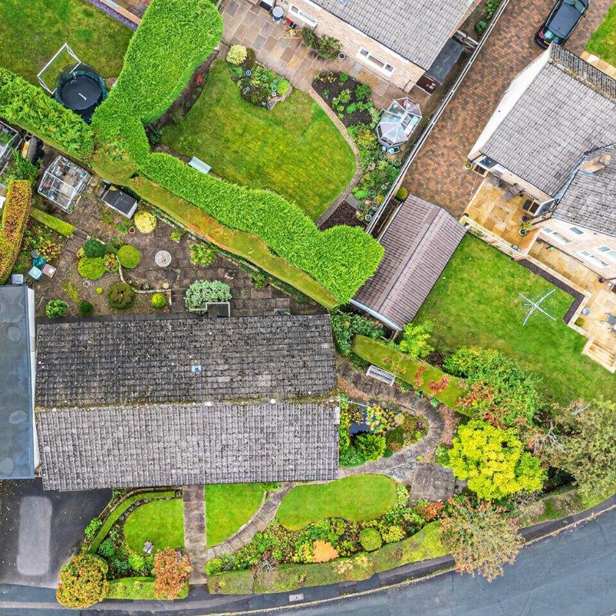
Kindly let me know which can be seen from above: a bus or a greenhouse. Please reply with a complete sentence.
It is a greenhouse that can be seen here.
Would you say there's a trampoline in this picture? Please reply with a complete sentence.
Yes, the picture does show a trampoline.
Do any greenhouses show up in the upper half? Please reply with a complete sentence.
Yes, I can see a greenhouse in the upper half.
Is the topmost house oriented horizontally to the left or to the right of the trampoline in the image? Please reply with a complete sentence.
Compared with the trampoline, the topmost house oriented horizontally is located further to the right.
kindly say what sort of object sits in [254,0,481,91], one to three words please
house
